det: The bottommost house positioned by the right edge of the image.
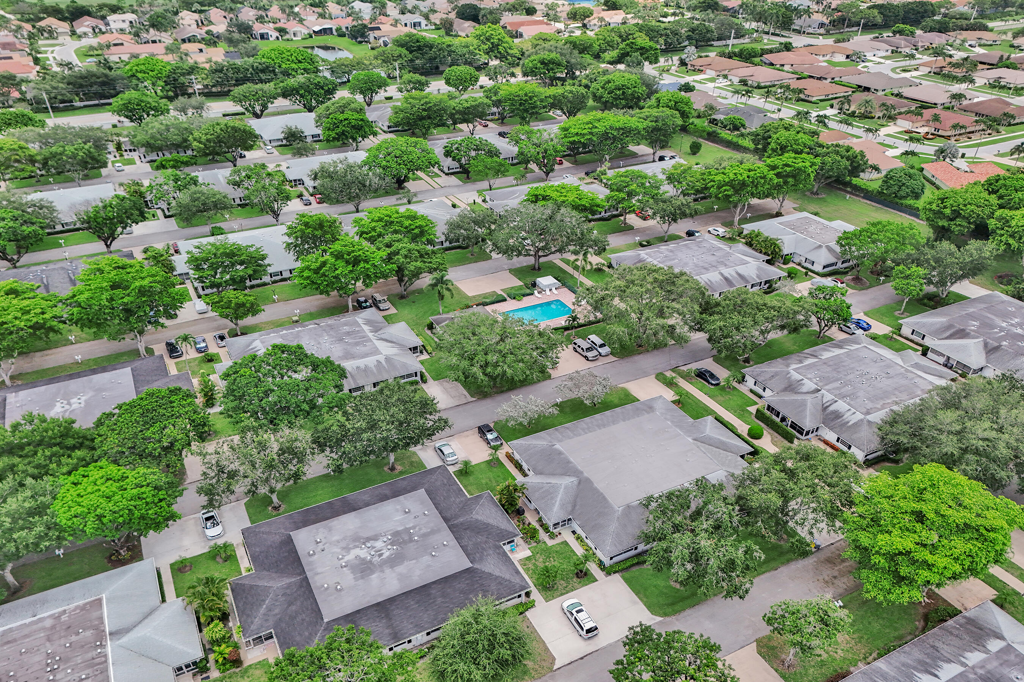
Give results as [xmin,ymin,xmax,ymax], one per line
[841,599,1024,682]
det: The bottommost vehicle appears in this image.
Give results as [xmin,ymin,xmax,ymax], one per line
[559,592,603,640]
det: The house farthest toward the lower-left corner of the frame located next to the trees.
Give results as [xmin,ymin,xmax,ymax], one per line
[0,557,203,682]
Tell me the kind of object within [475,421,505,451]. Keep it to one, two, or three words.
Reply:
car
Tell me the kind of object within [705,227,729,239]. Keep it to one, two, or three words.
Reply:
vehicle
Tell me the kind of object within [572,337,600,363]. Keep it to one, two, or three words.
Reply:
car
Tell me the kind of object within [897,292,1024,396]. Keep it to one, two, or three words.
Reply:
house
